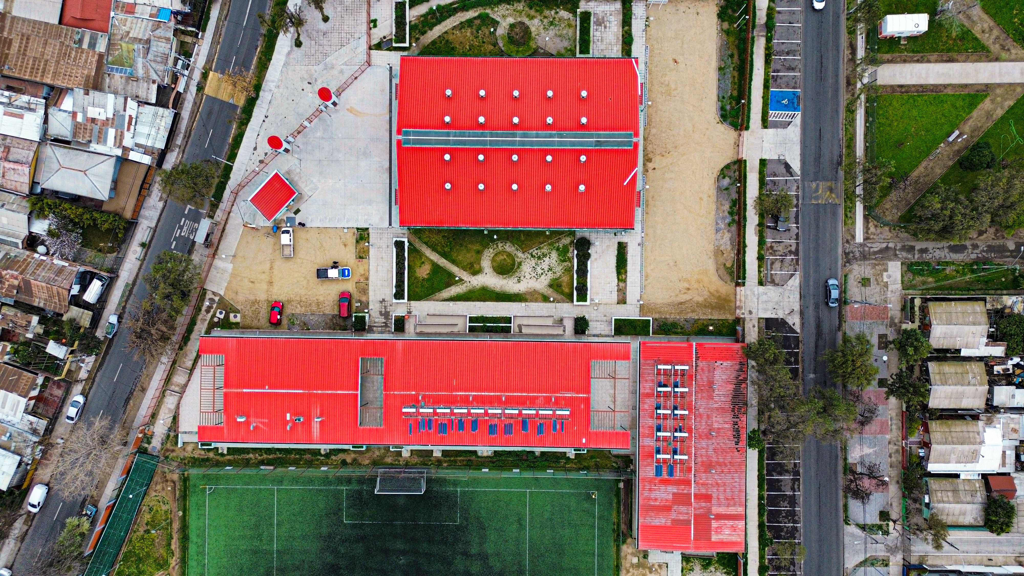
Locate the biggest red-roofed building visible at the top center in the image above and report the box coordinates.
[395,55,643,230]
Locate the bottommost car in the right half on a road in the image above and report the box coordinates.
[824,278,840,308]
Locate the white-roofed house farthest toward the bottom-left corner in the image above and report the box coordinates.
[0,442,42,491]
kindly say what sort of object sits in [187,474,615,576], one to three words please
soccer field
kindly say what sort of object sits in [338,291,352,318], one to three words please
car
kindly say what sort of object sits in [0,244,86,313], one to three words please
house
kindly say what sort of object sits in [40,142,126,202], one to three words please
house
